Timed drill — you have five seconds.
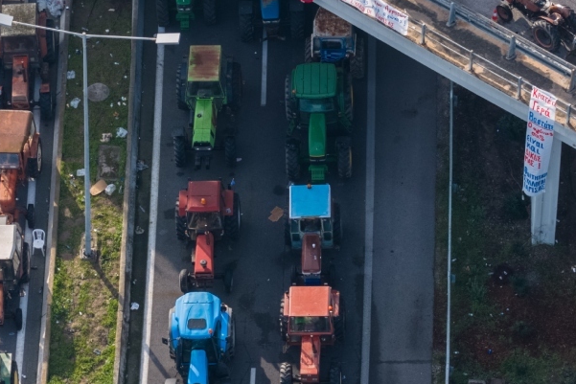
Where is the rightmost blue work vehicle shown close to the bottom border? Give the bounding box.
[163,287,237,384]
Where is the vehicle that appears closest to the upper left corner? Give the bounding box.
[0,0,55,119]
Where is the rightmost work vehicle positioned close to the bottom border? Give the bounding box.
[279,283,346,384]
